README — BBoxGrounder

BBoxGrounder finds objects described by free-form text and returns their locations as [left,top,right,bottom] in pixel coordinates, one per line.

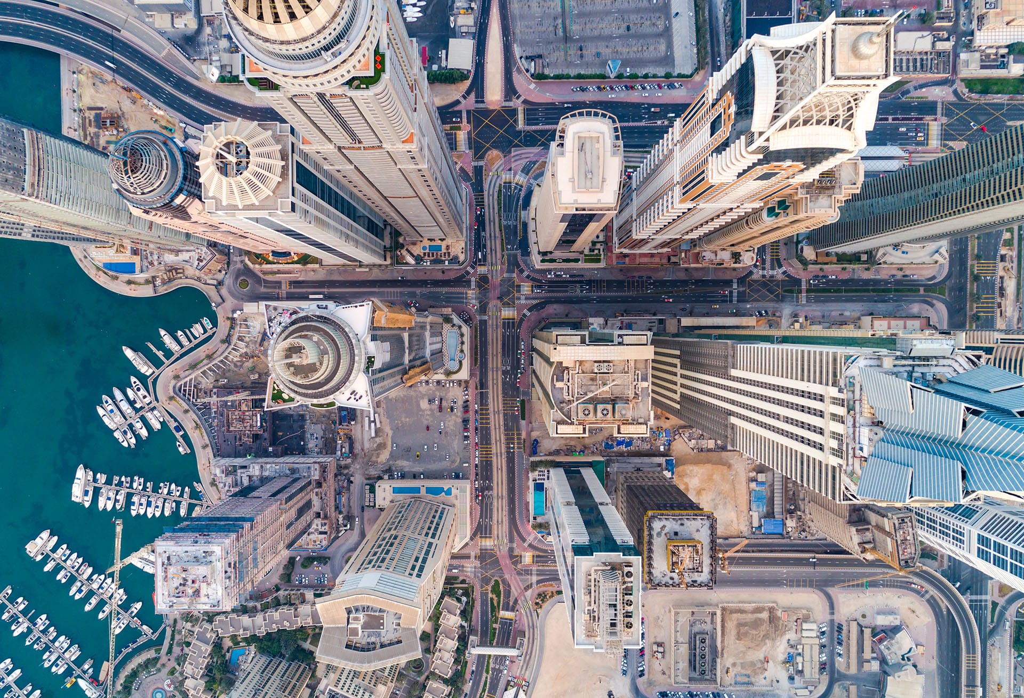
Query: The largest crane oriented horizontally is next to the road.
[834,543,926,588]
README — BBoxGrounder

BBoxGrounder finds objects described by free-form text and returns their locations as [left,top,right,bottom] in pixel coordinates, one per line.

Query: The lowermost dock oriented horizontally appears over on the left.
[88,476,207,519]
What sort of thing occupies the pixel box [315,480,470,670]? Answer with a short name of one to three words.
building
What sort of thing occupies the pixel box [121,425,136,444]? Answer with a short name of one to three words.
boat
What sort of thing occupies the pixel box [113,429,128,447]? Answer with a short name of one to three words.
boat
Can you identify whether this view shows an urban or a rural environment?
urban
